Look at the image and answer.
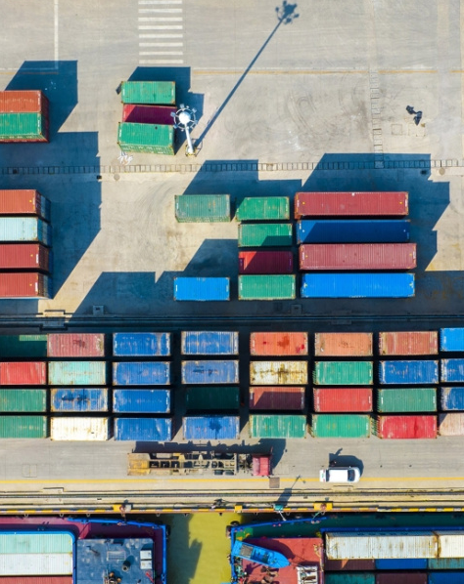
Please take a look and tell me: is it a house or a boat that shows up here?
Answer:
boat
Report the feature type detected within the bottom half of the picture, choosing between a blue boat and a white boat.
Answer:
blue boat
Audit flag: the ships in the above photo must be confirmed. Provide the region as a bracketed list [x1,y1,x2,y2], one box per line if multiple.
[0,516,173,584]
[221,511,464,584]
